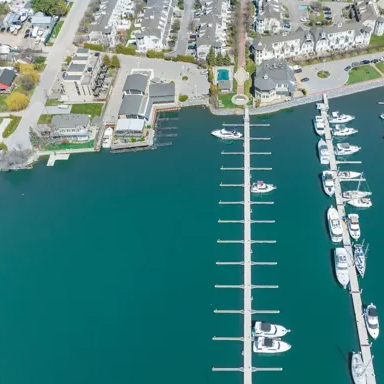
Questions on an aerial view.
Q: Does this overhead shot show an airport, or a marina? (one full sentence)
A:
What you see here is a marina.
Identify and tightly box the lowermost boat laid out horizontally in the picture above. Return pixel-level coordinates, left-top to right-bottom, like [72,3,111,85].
[251,337,291,354]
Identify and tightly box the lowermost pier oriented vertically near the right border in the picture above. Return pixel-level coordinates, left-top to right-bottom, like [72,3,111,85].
[317,102,376,384]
